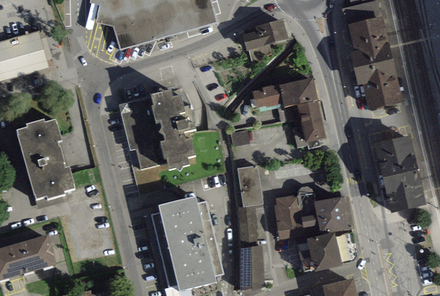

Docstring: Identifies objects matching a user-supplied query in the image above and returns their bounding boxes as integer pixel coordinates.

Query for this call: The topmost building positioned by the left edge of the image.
[0,32,48,80]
